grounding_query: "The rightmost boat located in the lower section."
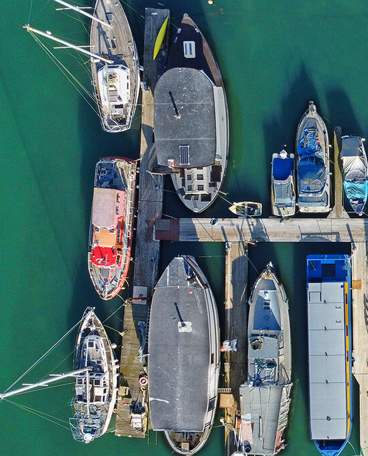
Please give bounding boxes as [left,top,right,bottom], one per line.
[308,256,358,456]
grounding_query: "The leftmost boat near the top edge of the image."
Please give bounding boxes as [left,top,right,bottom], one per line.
[24,0,148,135]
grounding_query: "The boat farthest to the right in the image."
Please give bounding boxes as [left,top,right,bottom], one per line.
[341,136,368,217]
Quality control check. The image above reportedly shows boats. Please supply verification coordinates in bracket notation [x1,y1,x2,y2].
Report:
[142,256,225,456]
[0,305,124,447]
[271,144,298,219]
[85,157,142,302]
[24,0,148,135]
[308,256,358,456]
[148,14,236,213]
[240,257,293,456]
[228,202,263,216]
[341,136,368,217]
[292,100,336,220]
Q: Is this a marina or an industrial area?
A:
marina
